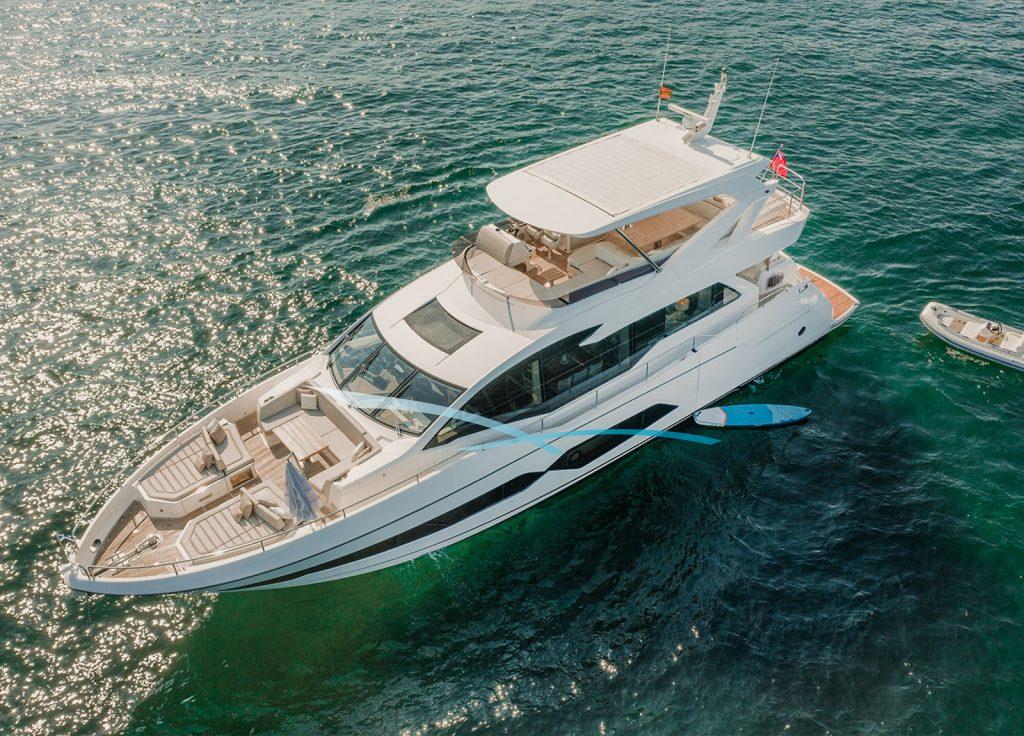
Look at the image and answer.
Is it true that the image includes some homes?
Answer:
No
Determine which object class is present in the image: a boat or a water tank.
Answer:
boat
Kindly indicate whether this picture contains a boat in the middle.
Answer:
Yes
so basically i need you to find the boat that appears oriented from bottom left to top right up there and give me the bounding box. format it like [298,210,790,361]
[56,36,859,596]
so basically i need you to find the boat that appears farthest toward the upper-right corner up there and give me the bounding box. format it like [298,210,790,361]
[920,303,1024,376]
